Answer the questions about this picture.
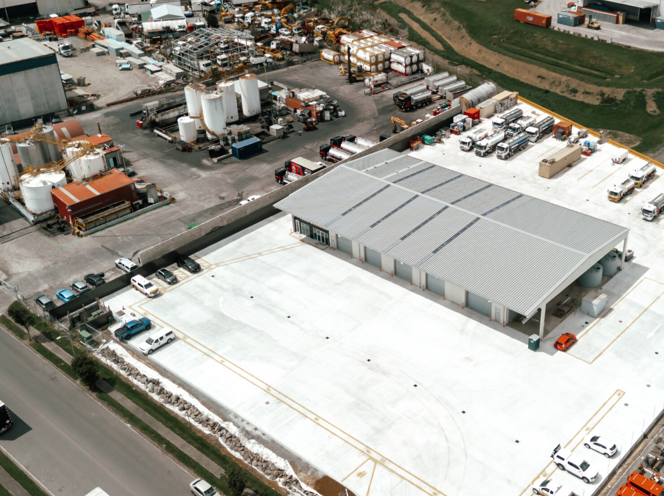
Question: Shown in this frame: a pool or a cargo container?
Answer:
cargo container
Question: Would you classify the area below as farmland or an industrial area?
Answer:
industrial area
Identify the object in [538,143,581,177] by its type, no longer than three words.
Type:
shipping container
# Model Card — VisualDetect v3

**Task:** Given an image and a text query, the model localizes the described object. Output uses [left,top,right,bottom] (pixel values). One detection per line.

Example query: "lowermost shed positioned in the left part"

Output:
[49,171,139,230]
